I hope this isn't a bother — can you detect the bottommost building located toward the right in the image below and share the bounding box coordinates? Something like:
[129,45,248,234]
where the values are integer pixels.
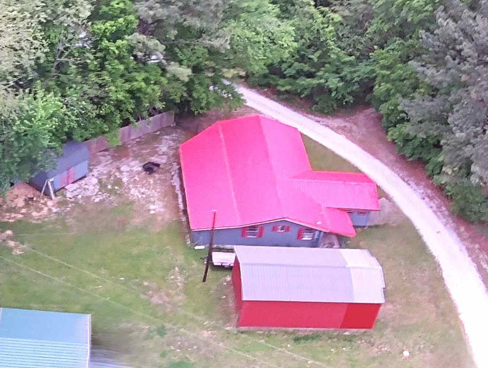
[228,246,386,329]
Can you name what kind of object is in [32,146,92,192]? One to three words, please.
shed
